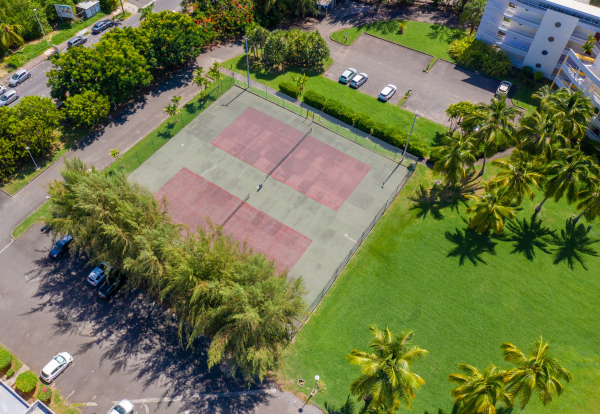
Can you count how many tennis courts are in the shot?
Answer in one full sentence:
There are 2 tennis courts in the image.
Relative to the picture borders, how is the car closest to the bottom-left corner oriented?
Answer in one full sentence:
The car closest to the bottom-left corner is oriented on a diagonal.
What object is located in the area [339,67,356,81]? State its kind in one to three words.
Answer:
car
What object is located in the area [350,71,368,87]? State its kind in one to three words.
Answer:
car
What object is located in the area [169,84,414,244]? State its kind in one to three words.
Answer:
tennis court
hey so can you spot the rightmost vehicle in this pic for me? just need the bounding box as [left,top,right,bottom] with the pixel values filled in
[496,80,513,95]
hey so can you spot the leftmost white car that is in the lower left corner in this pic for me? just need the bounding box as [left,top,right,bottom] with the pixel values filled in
[36,347,74,382]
